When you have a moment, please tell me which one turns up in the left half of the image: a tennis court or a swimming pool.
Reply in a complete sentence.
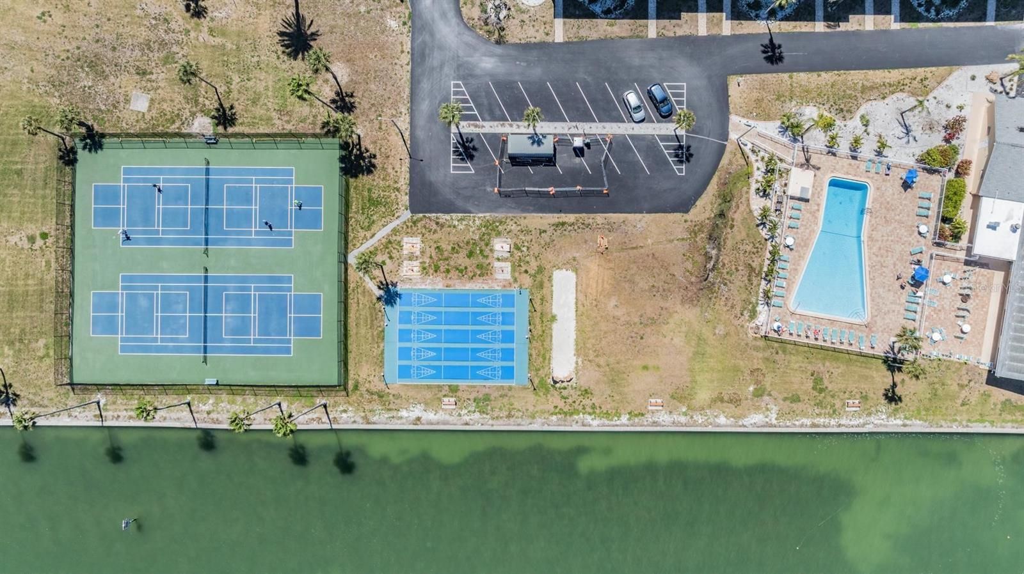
There is a tennis court in the left half of the image.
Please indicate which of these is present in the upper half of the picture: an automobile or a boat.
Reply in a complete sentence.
Looking in the upper half of the picture, you will find an automobile.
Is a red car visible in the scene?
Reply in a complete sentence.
No, there is no red car in the image.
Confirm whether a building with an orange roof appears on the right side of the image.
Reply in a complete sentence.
No, looking on the right side of the image, there is no building with an orange roof.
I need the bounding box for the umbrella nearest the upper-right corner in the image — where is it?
[901,170,920,185]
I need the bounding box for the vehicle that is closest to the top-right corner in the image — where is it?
[649,81,672,117]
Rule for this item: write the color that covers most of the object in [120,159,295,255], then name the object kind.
blue tennis court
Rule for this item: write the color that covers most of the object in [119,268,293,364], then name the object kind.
blue tennis court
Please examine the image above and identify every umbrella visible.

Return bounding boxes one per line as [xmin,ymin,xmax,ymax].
[901,170,920,185]
[914,265,931,283]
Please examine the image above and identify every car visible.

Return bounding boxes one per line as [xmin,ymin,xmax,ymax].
[649,81,672,117]
[623,87,646,122]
